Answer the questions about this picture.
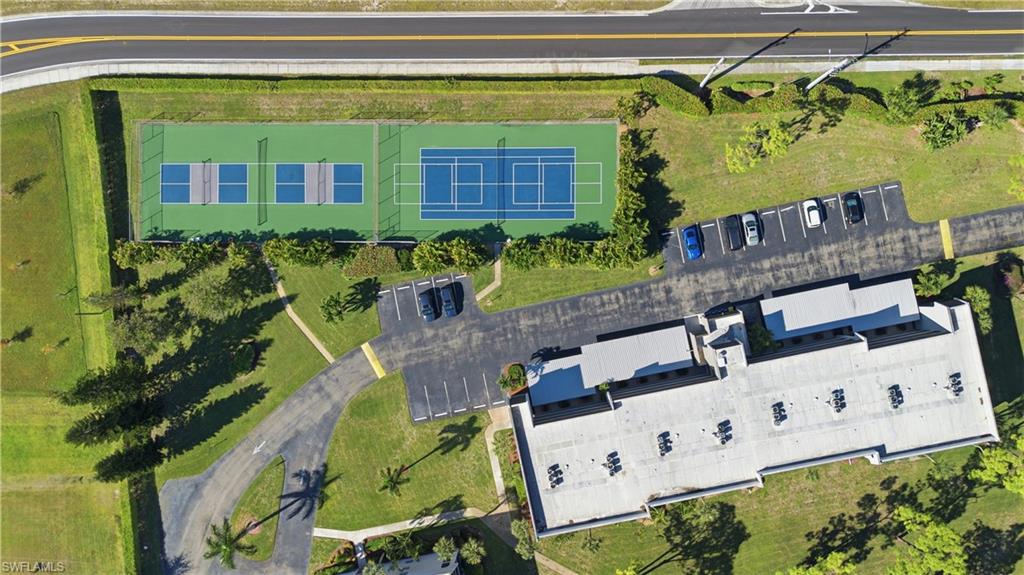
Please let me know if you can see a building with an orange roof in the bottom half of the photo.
No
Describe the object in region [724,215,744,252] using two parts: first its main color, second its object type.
black car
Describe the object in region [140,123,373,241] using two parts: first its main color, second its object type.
green sports court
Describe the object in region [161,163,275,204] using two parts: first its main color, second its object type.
blue sports court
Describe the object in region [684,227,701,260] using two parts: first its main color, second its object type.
blue car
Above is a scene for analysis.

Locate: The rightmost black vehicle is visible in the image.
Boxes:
[843,192,862,224]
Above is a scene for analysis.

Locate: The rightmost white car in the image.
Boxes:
[803,199,821,229]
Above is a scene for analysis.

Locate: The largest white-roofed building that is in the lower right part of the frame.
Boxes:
[511,303,1002,540]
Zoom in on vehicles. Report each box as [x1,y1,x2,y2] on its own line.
[843,192,862,224]
[803,199,821,229]
[742,214,760,246]
[419,292,435,322]
[724,215,744,252]
[684,227,701,260]
[440,287,456,318]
